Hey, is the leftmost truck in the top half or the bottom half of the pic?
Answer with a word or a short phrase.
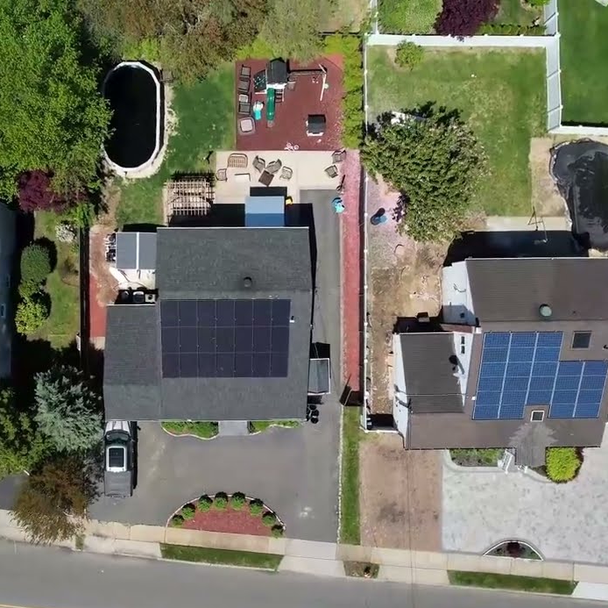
bottom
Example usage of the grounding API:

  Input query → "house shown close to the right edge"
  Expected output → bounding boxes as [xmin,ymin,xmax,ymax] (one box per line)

[397,256,608,468]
